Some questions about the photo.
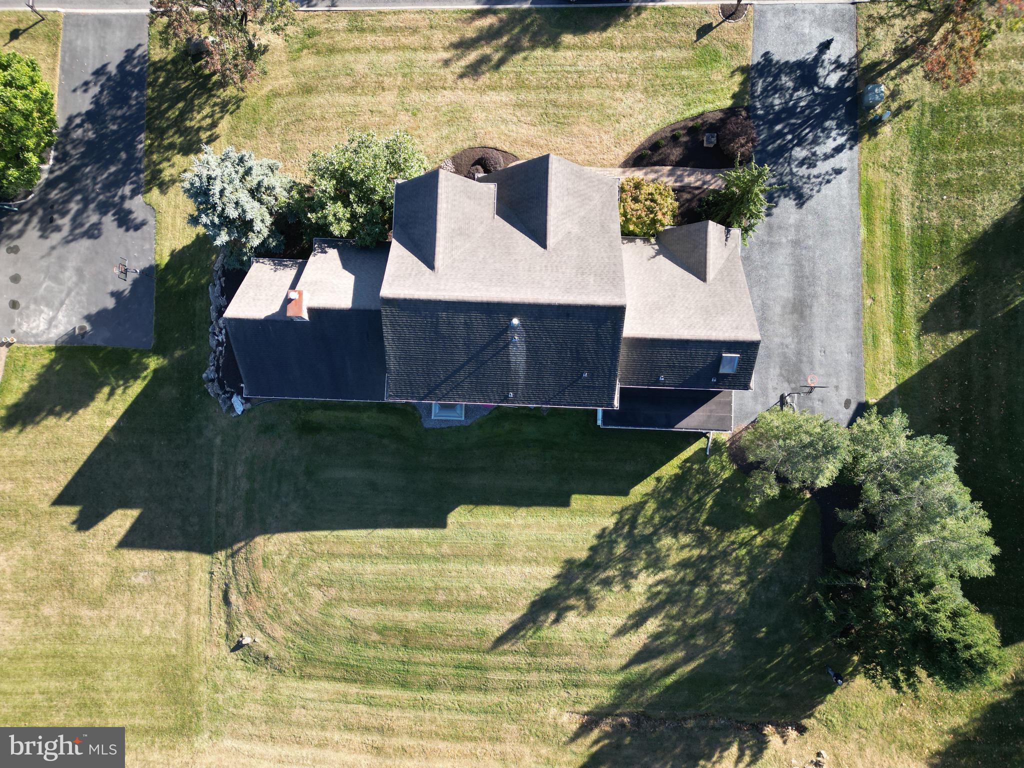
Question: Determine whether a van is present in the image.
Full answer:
No, no van can be seen from above.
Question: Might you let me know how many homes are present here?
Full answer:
My tally gives 1 home in this photo.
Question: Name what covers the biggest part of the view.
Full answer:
For the most part, this view shows grass.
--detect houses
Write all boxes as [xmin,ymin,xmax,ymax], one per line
[226,155,765,454]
